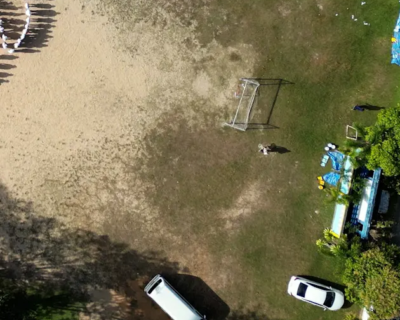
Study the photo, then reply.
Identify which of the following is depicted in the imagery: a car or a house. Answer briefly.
car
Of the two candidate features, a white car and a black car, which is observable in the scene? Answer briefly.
white car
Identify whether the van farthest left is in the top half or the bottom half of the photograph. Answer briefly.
bottom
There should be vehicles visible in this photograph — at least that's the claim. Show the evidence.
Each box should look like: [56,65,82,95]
[287,276,344,310]
[143,272,207,320]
